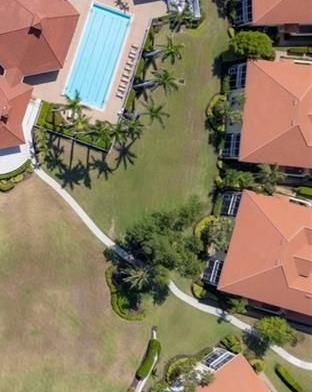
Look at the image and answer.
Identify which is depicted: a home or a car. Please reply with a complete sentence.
It is a home that can be seen here.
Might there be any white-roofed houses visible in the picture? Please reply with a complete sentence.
No, I find no white-roofed house anywhere in the image.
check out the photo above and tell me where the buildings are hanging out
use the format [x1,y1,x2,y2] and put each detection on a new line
[0,0,80,149]
[171,350,275,392]
[238,0,312,36]
[205,187,312,322]
[225,51,312,176]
